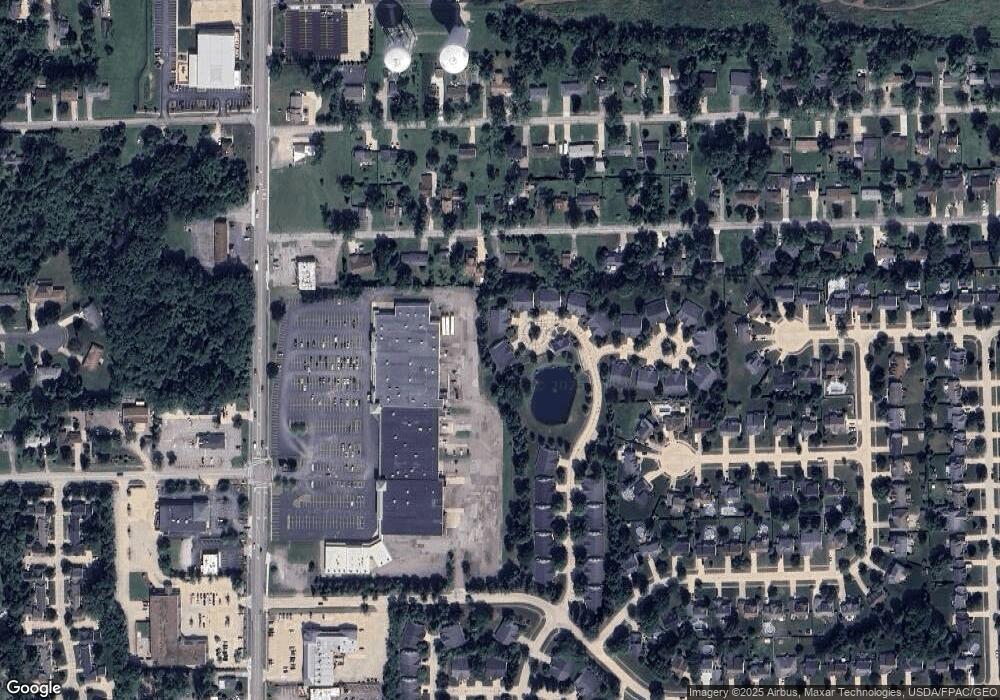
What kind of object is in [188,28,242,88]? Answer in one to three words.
building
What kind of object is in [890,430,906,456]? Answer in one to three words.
house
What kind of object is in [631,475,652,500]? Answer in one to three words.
house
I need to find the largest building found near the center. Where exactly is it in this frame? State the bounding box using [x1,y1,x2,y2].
[371,299,444,535]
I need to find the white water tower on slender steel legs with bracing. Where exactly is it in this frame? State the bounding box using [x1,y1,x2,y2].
[384,21,418,70]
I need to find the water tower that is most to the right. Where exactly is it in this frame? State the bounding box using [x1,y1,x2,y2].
[440,23,471,70]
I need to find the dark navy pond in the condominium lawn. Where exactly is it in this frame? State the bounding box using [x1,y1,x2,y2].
[531,366,576,425]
